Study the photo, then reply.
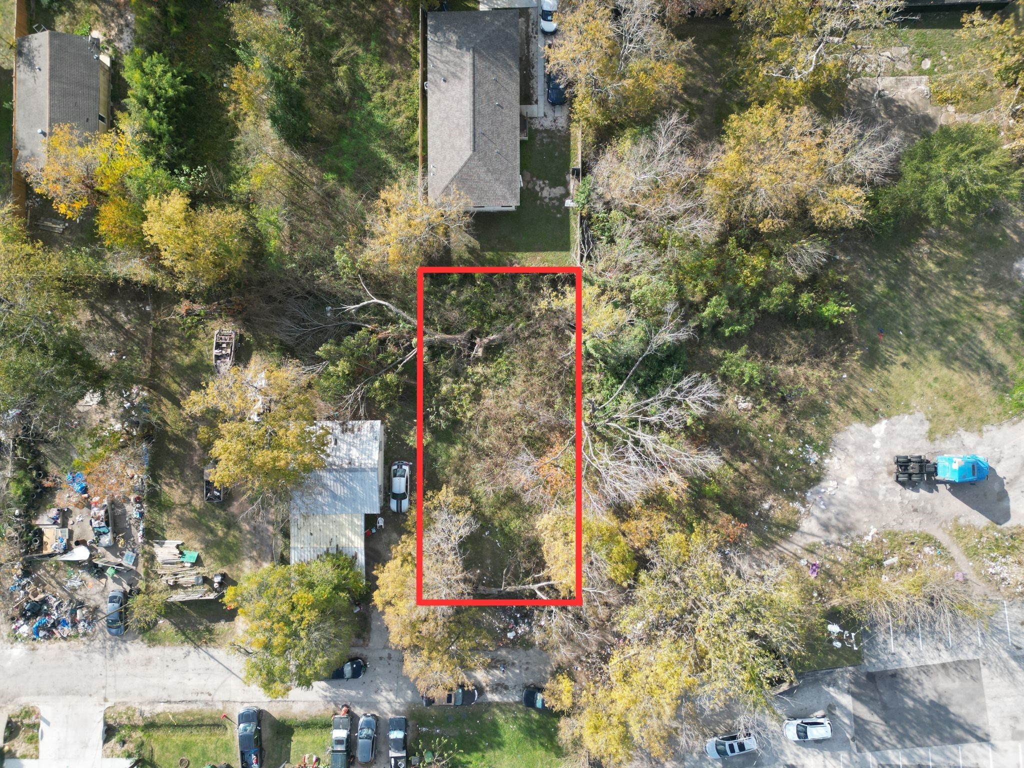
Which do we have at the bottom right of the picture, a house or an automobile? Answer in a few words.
automobile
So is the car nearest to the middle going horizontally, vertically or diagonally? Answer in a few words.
vertically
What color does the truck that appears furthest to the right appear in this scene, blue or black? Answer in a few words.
blue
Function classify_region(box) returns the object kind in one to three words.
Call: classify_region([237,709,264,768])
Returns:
truck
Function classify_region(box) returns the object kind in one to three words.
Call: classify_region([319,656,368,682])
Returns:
car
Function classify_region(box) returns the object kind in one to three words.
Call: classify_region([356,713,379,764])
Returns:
car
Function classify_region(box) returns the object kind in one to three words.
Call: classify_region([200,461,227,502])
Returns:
trailer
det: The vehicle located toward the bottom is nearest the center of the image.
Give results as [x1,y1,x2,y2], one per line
[388,461,412,512]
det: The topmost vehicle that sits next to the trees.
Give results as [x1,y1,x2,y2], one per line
[537,0,561,38]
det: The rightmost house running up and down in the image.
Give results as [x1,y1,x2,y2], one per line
[426,2,528,211]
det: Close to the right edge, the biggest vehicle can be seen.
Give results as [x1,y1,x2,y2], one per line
[888,453,991,486]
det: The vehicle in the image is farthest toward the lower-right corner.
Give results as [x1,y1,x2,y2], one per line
[781,717,830,743]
